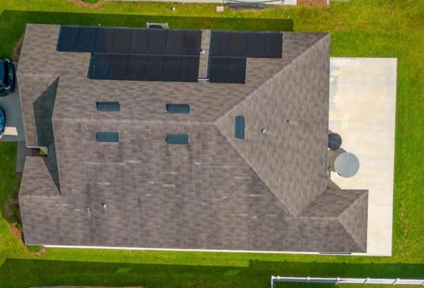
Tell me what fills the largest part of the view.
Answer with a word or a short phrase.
buildings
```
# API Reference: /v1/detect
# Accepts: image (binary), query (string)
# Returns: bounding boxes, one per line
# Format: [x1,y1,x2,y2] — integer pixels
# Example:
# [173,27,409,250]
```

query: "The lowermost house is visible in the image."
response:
[16,25,368,258]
